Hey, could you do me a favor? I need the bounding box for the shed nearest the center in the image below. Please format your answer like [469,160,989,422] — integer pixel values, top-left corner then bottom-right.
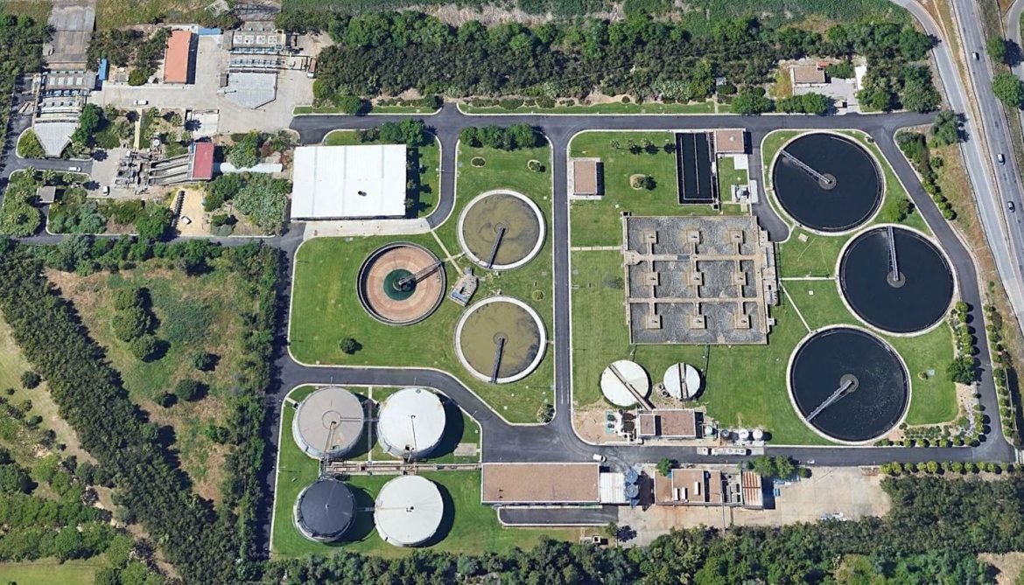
[574,161,597,198]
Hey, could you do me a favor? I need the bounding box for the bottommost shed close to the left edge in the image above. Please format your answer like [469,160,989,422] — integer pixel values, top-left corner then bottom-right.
[37,186,59,206]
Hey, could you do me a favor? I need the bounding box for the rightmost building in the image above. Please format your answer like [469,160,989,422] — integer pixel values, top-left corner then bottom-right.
[793,62,831,87]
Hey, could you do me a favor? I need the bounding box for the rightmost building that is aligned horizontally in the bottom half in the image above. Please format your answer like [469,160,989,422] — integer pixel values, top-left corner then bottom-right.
[654,470,743,507]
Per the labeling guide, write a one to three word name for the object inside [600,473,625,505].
shed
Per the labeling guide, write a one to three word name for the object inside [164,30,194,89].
building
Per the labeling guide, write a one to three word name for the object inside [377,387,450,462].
storage tank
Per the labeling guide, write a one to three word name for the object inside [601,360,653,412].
storage tank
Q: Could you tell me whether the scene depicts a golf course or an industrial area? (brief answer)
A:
industrial area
